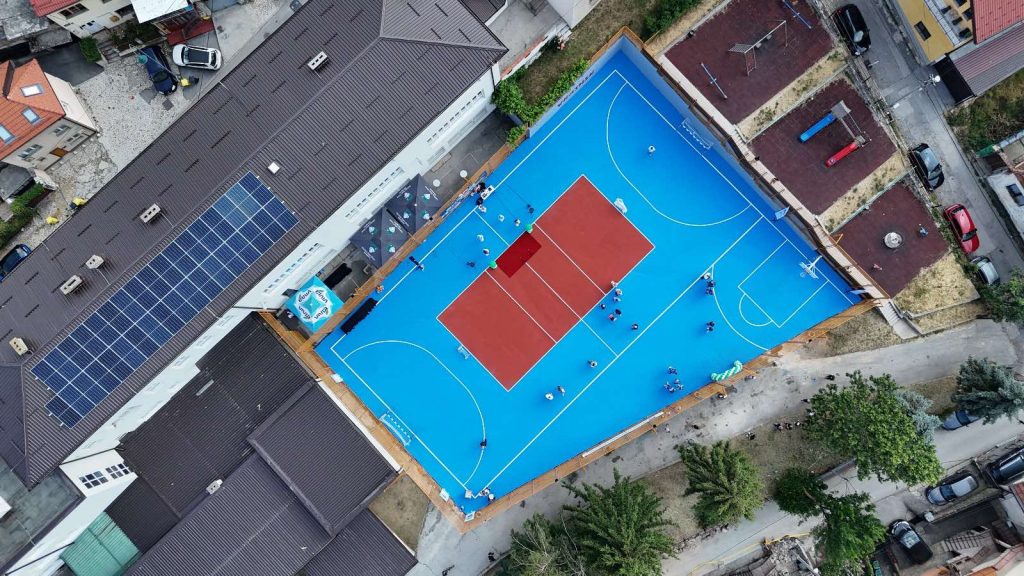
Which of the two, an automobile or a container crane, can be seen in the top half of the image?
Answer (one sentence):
You can see an automobile in the top half of the image.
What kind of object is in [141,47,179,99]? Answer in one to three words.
car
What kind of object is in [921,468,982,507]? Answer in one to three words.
car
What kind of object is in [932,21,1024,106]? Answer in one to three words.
building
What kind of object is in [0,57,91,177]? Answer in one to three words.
house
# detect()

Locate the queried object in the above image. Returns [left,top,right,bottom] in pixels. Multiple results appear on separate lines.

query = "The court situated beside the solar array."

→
[315,50,863,513]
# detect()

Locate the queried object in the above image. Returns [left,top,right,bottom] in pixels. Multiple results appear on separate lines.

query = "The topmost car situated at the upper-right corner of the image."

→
[833,0,874,60]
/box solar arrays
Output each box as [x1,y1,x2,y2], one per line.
[31,171,298,430]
